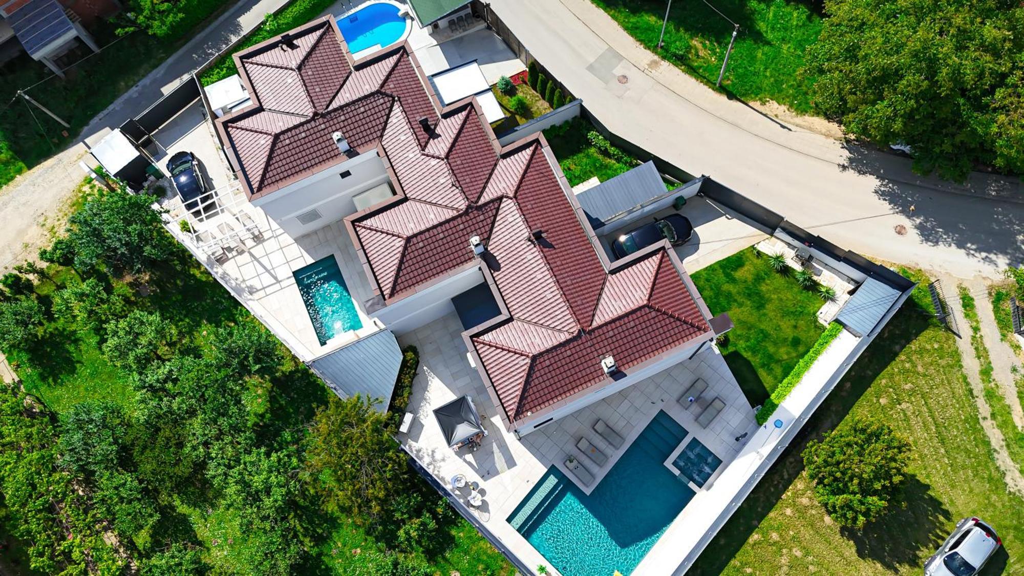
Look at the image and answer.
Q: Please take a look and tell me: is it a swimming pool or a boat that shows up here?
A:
swimming pool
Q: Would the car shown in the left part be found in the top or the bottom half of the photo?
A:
top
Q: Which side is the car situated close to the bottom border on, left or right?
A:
right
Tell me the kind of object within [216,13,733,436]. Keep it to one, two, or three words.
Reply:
house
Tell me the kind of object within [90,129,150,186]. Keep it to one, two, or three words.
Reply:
shed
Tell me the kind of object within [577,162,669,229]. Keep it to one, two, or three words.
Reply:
shed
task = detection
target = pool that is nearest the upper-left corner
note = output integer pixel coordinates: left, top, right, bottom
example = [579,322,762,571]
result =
[333,0,410,61]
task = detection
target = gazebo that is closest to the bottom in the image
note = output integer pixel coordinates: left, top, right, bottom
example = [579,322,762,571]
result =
[433,394,491,447]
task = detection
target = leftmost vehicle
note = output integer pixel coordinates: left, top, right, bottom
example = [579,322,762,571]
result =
[165,148,211,214]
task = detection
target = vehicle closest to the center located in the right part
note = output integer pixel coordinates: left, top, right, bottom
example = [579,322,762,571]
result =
[616,216,695,260]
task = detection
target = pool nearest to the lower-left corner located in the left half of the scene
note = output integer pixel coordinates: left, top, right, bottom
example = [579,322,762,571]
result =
[293,255,359,346]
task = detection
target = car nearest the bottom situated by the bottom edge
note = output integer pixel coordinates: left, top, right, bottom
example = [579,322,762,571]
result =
[925,520,1005,576]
